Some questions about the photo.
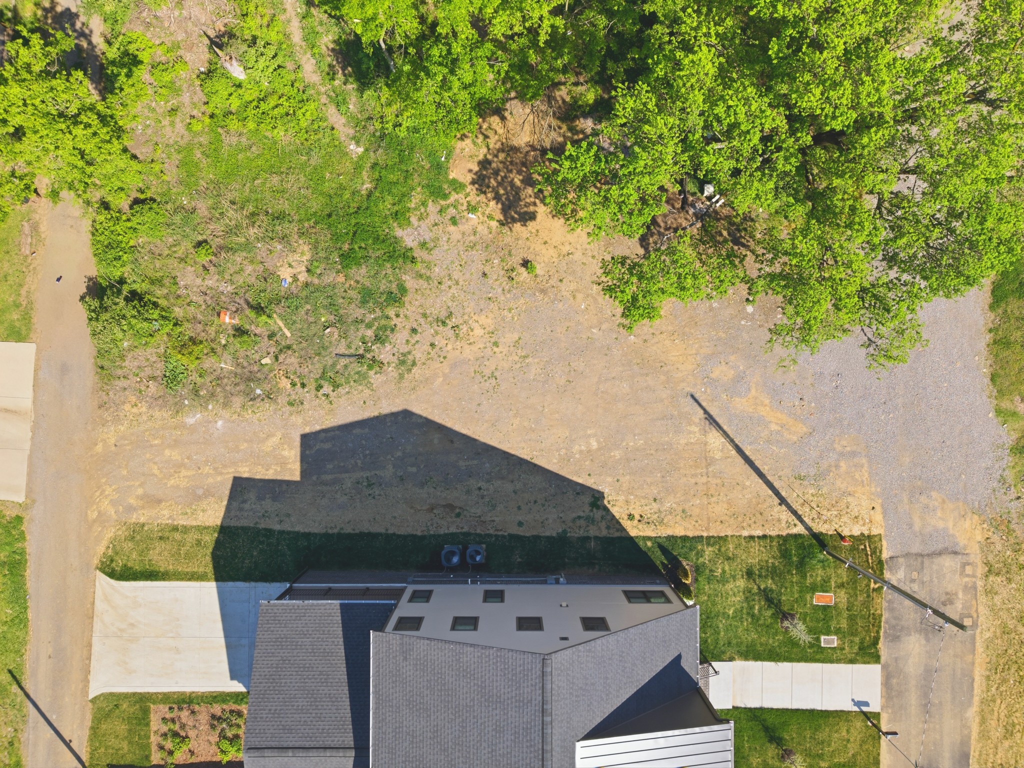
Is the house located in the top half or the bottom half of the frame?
bottom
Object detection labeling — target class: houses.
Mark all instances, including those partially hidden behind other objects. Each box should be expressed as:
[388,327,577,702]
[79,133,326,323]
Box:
[246,570,736,768]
